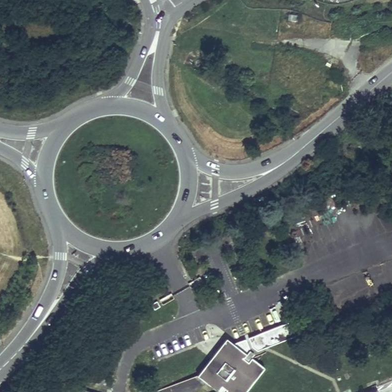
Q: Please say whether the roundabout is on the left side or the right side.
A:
left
